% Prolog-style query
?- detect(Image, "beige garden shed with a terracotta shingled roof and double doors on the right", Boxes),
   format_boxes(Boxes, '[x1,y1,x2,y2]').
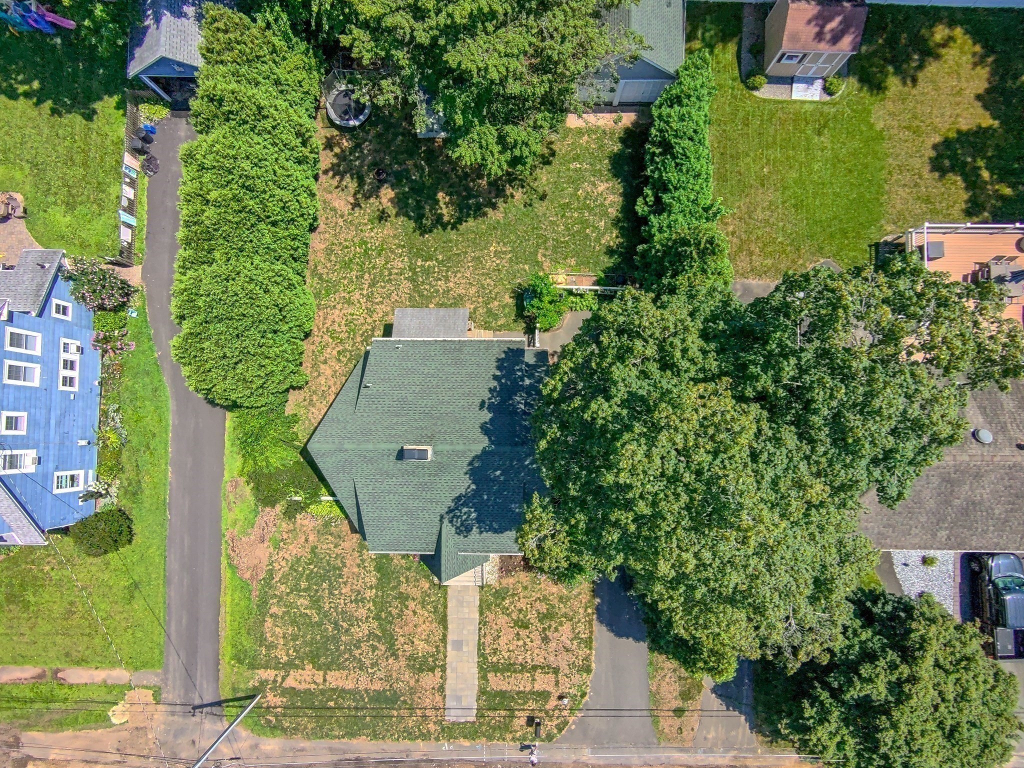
[765,0,862,74]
